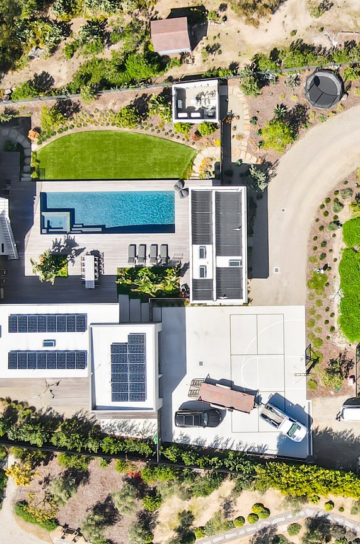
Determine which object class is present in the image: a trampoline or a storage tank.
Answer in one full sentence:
This aerial view contains a trampoline.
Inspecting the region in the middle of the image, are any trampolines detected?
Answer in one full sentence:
No, in the middle of the image there is no trampoline.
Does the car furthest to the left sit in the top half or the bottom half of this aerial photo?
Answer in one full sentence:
The bottom half of the photo is where the car furthest to the left is.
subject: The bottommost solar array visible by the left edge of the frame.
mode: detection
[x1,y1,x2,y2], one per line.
[8,351,87,369]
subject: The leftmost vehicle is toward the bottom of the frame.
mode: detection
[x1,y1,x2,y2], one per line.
[176,409,222,429]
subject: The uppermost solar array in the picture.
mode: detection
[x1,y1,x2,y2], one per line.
[8,315,87,332]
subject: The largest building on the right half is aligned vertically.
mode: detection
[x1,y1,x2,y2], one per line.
[189,187,249,305]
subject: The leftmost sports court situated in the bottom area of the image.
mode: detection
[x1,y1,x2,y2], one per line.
[157,305,307,456]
